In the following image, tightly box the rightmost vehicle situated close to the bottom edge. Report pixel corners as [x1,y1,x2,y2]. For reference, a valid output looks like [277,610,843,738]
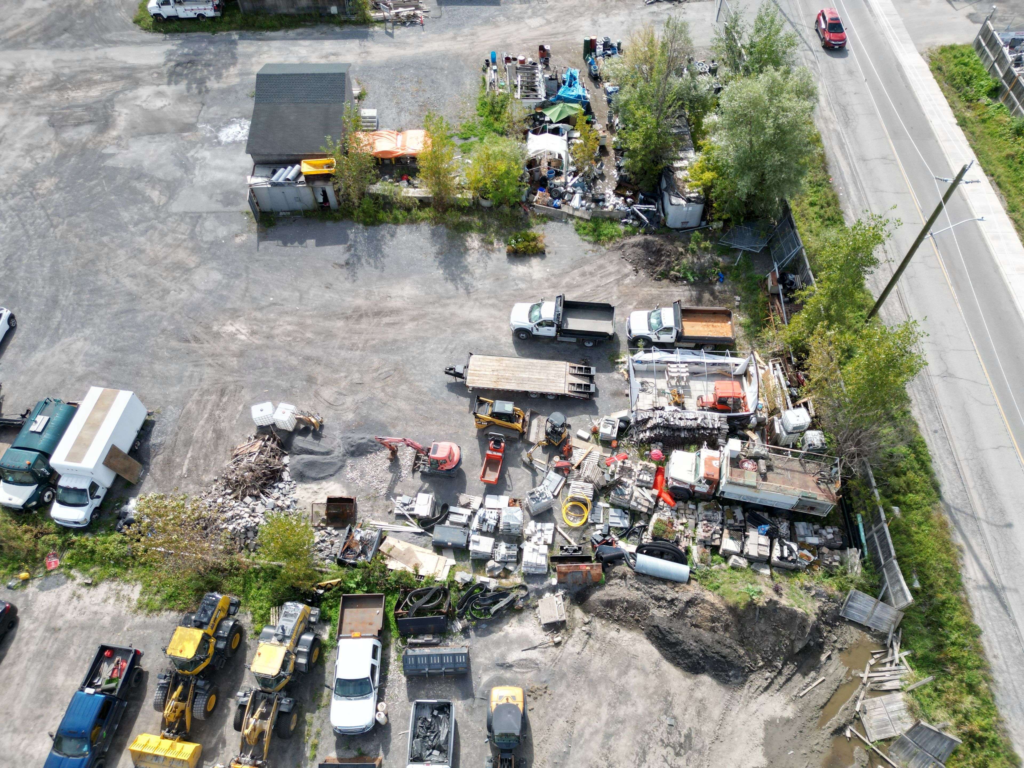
[484,695,533,768]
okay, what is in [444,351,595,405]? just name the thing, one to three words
trailer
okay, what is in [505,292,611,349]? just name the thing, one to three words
truck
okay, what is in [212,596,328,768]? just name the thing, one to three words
work vehicle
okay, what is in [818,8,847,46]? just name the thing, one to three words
car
